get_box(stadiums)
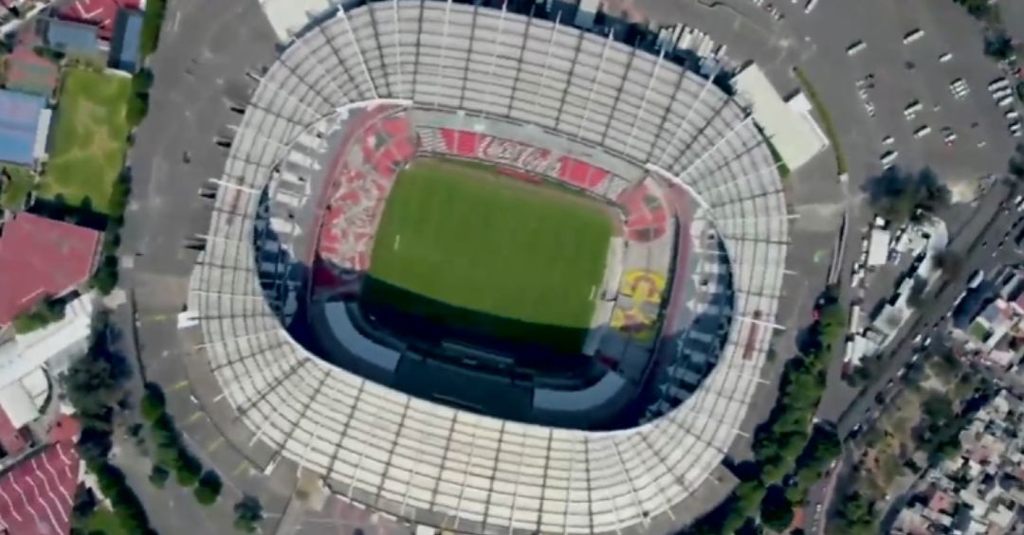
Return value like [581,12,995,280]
[175,0,801,535]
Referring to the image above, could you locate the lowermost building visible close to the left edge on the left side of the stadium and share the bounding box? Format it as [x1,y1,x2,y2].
[0,438,88,535]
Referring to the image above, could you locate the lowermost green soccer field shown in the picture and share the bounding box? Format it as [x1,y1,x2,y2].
[364,159,623,357]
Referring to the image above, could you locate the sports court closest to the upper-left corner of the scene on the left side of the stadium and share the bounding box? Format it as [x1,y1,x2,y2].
[7,45,57,95]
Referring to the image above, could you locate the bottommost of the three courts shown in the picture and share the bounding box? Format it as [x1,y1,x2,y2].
[0,126,37,165]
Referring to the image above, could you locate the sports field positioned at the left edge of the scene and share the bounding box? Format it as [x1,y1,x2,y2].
[38,70,132,210]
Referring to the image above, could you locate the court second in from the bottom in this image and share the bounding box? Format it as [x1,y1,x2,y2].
[0,91,46,130]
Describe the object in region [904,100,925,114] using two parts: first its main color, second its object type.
white vehicle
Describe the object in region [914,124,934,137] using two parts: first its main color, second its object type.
white vehicle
